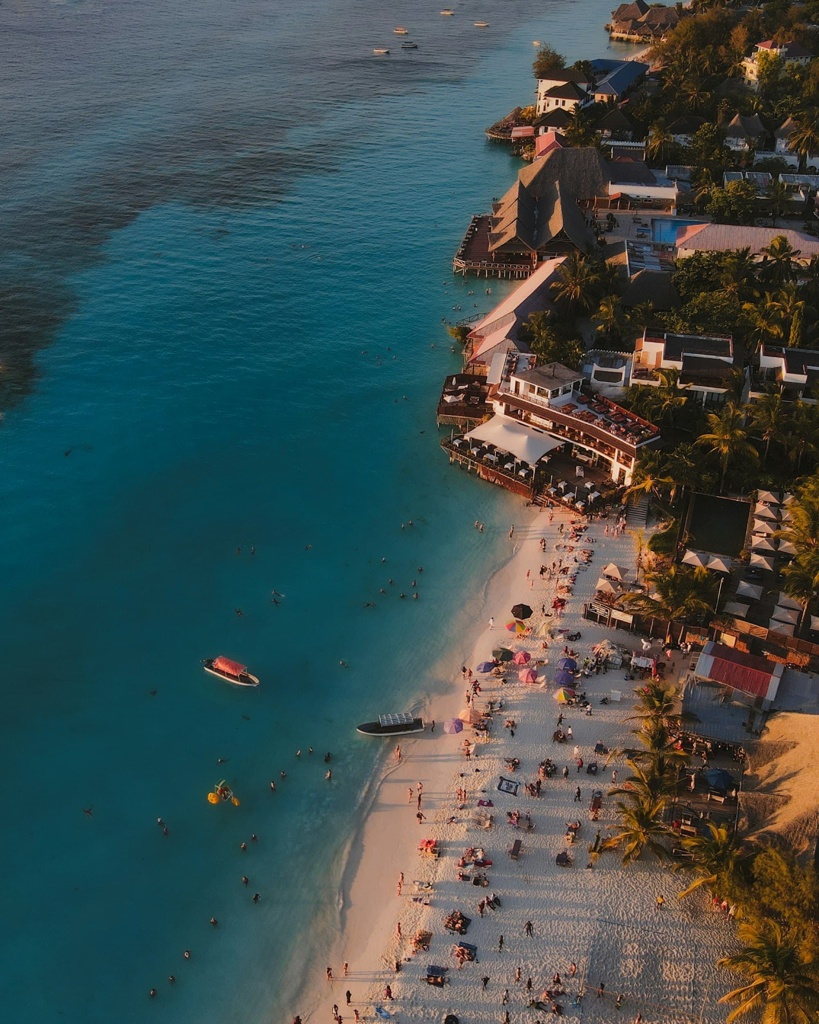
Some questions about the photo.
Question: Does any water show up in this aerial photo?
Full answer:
Yes, water shows up in the scene.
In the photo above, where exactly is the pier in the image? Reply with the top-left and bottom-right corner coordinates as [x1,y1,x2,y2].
[485,118,536,147]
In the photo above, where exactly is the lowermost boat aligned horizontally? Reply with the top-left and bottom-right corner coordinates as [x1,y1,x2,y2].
[358,710,423,730]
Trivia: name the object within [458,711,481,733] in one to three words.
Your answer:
umbrella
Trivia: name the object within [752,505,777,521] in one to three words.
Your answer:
umbrella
